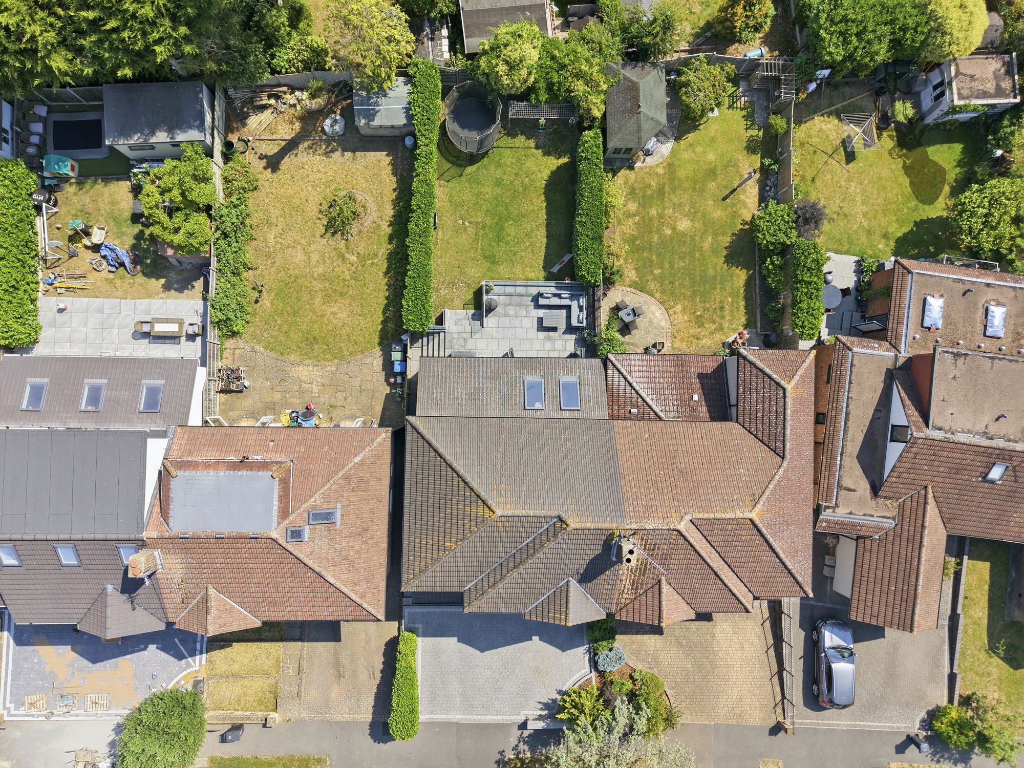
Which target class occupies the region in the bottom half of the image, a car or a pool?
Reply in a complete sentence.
There is a car in the bottom half of the image.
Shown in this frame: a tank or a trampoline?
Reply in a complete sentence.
I can see a trampoline in this picture.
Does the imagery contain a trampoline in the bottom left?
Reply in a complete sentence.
No, no trampoline can be made out in the bottom left.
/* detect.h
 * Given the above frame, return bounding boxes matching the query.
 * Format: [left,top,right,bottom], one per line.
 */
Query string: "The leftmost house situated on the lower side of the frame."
[0,353,205,639]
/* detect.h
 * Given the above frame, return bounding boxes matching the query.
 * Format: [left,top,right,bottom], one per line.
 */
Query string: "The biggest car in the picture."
[806,616,859,712]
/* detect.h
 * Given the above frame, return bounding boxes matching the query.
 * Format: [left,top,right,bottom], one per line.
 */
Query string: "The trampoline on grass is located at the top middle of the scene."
[439,86,500,162]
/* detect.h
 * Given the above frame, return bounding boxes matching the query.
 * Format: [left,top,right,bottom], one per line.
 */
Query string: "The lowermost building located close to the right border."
[815,256,1024,634]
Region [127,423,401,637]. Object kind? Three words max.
house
